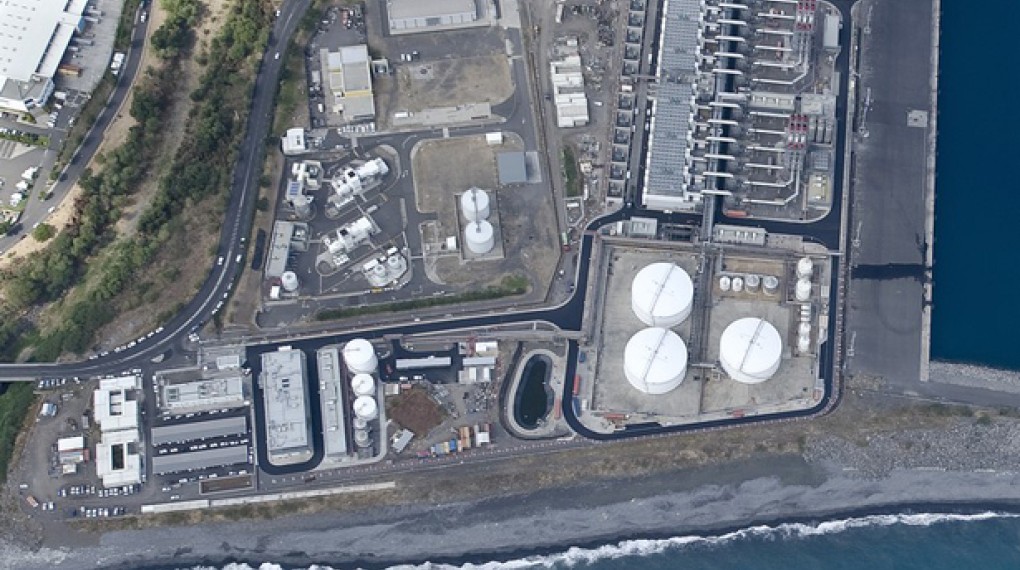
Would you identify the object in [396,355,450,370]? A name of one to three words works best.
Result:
building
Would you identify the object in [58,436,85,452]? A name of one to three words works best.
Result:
shed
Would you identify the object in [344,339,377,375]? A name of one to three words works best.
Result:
storage tank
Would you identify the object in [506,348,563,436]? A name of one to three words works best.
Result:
pond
